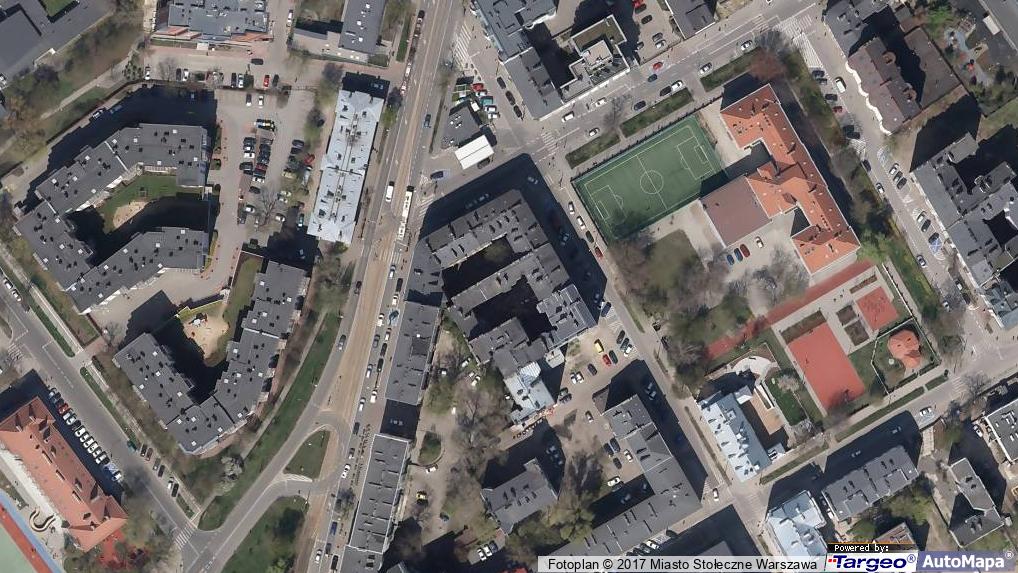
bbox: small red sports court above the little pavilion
[856,287,898,331]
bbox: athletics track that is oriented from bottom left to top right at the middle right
[707,255,875,357]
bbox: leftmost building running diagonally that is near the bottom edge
[0,394,129,552]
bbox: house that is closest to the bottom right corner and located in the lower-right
[945,461,1004,547]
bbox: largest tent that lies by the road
[454,134,495,170]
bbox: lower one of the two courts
[788,322,865,410]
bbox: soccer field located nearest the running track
[572,115,731,243]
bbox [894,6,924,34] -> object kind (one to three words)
shed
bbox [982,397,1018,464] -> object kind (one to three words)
house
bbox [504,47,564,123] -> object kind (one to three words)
building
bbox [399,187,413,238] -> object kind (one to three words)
vehicle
